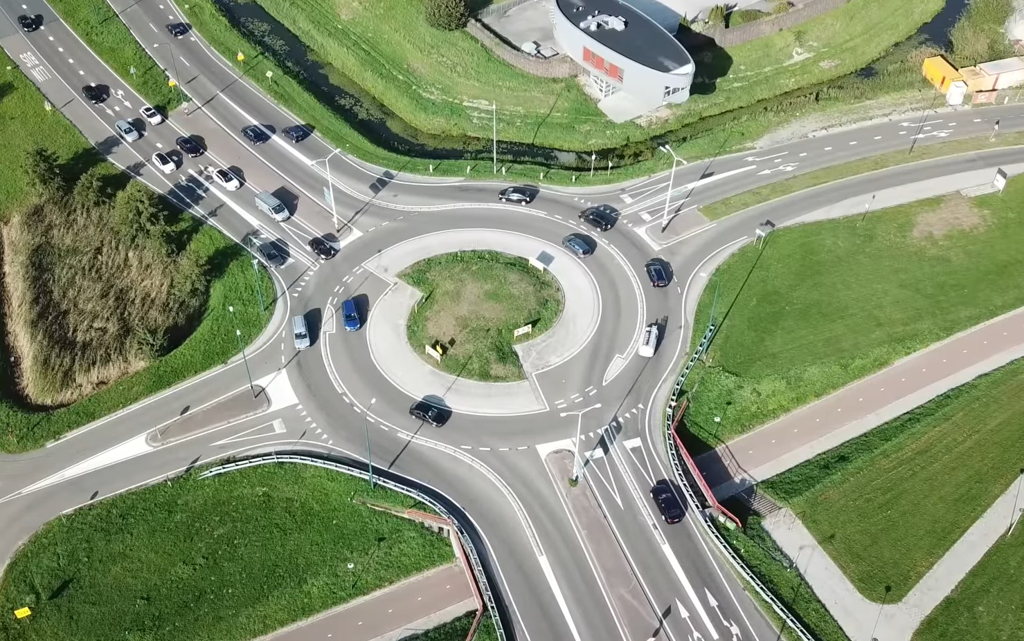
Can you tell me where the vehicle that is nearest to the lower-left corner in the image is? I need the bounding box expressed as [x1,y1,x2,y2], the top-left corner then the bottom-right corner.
[290,317,311,351]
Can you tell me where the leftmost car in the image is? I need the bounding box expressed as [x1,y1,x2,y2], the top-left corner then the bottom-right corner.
[19,17,35,32]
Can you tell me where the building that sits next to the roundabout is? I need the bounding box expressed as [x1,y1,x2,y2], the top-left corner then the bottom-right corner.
[550,0,694,123]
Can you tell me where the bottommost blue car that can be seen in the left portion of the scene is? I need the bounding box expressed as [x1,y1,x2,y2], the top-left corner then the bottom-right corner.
[341,299,362,333]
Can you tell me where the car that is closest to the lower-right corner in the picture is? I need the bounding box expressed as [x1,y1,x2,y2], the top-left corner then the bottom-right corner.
[648,485,684,526]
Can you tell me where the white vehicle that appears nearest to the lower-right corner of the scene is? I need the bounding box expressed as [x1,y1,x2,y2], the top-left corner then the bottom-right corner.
[636,322,661,358]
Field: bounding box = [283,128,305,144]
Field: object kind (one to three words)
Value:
car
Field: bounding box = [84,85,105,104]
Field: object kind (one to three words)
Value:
car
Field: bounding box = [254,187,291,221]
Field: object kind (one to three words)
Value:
van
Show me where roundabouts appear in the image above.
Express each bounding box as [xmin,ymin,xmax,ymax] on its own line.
[62,166,687,641]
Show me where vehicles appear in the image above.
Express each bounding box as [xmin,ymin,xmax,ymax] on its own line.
[636,322,661,358]
[116,122,138,142]
[406,403,447,431]
[19,17,35,32]
[577,212,612,233]
[176,139,201,158]
[290,317,311,351]
[648,485,684,526]
[560,237,593,259]
[283,128,305,144]
[242,128,267,145]
[84,85,105,104]
[255,244,285,268]
[153,154,176,174]
[341,299,362,333]
[141,107,162,125]
[308,238,335,261]
[499,191,531,207]
[213,171,240,191]
[647,264,667,289]
[254,187,291,221]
